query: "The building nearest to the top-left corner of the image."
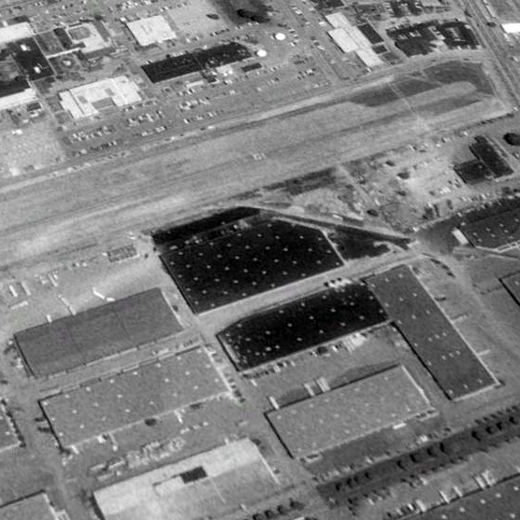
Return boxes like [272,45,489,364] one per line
[0,21,35,45]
